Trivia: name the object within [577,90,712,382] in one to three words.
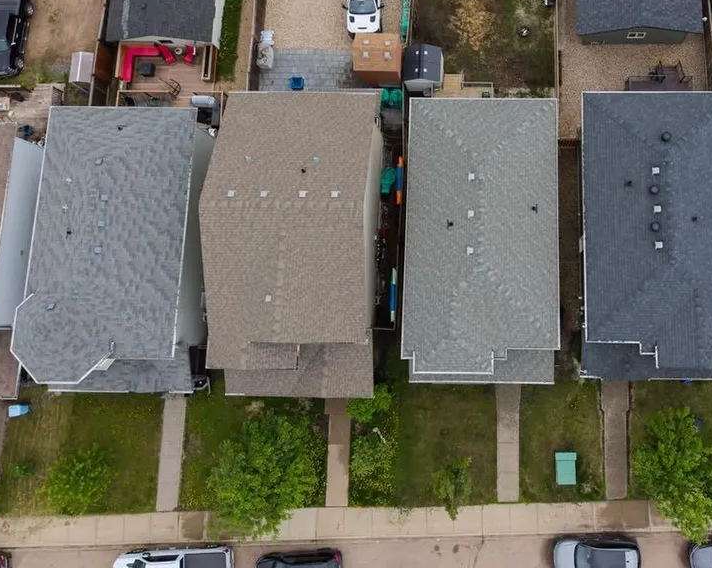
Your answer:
house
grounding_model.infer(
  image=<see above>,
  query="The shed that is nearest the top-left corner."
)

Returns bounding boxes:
[69,55,95,88]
